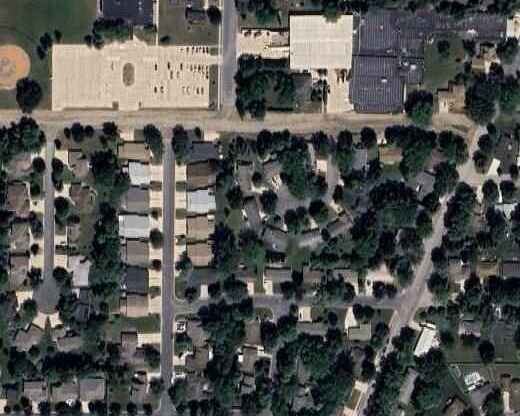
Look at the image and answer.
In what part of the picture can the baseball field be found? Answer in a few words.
top left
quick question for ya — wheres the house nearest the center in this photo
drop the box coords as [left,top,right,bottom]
[240,198,266,227]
